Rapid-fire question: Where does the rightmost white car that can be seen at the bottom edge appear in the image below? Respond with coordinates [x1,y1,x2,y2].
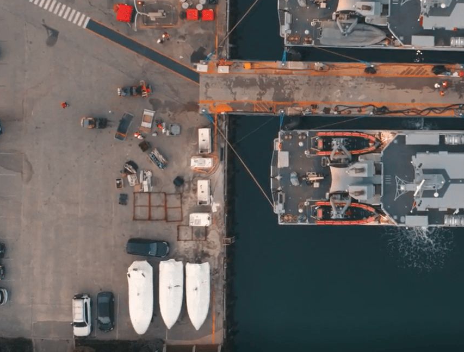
[70,292,93,336]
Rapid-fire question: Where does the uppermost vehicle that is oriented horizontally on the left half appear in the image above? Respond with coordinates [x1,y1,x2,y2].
[118,81,155,96]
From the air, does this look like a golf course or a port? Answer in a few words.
port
